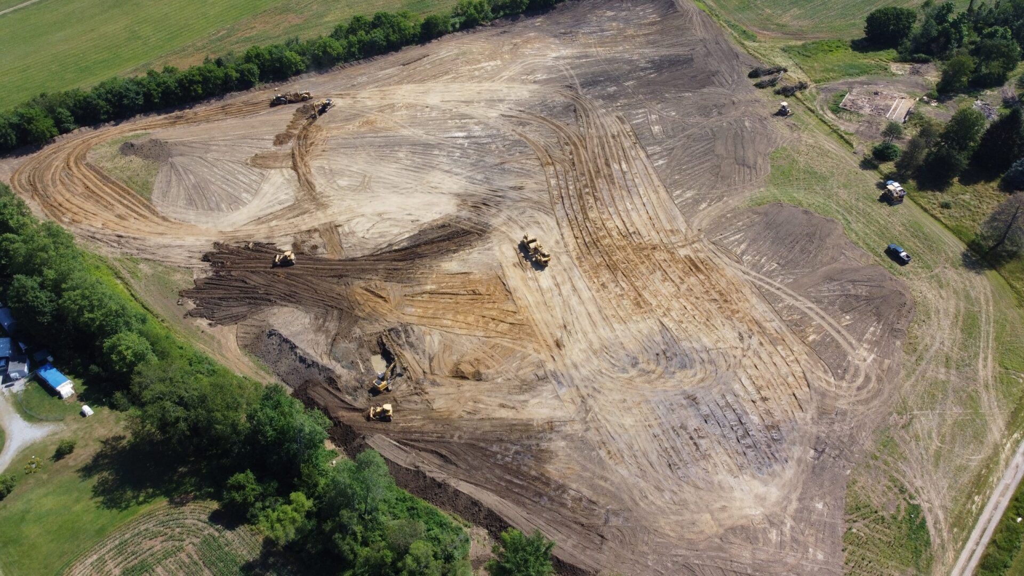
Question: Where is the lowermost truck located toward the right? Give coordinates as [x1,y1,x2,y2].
[883,242,916,263]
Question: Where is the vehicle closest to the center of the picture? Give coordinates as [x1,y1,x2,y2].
[369,363,404,398]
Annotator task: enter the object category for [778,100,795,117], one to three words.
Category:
work vehicle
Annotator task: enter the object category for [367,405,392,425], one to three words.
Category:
work vehicle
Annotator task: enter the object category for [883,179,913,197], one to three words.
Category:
vehicle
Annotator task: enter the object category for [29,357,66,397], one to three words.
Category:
shed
